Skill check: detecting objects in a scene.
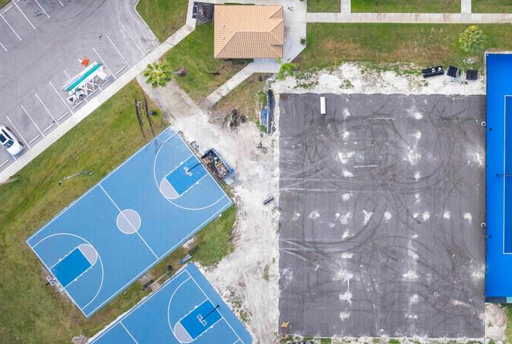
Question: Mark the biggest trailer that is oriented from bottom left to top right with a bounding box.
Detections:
[60,61,104,104]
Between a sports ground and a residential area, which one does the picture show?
sports ground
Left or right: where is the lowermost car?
left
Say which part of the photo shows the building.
top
